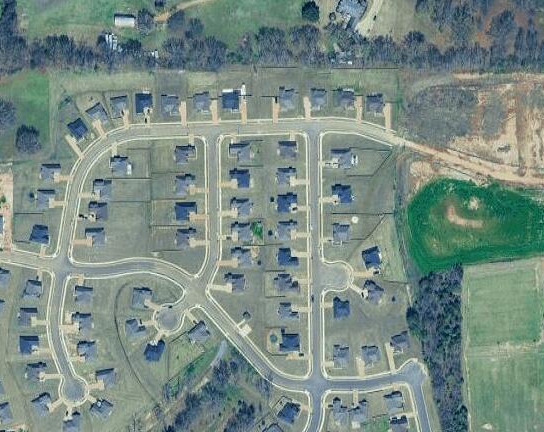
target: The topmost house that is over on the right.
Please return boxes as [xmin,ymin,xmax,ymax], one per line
[334,0,367,21]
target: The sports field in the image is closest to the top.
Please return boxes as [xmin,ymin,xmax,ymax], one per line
[468,267,540,343]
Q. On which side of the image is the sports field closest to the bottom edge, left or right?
right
